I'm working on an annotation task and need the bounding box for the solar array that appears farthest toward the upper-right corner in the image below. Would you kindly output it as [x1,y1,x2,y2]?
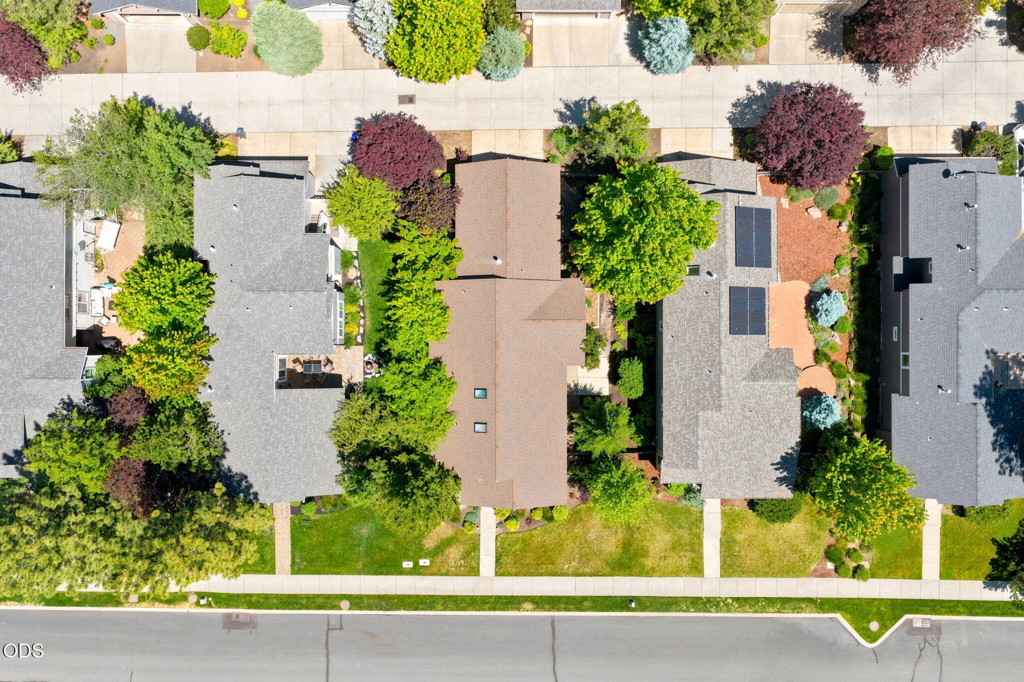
[737,205,773,268]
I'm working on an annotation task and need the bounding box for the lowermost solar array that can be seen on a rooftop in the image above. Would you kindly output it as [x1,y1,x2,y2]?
[731,286,767,336]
